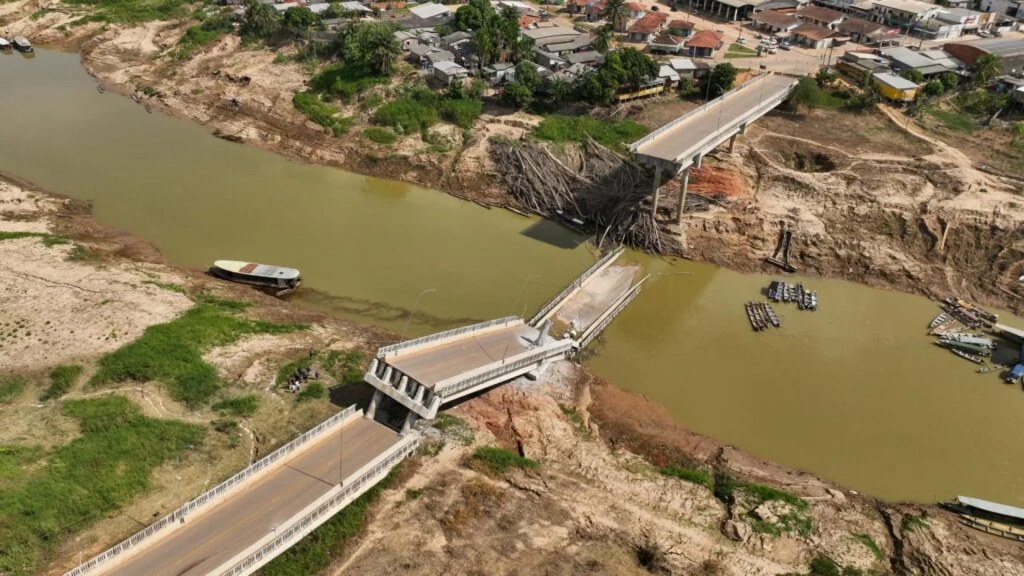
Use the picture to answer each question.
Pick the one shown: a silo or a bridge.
bridge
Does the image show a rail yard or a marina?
marina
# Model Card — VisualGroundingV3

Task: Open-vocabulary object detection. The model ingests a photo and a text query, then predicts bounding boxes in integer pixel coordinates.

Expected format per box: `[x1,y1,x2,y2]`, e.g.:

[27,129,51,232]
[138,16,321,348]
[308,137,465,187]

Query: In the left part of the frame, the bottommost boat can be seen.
[208,263,307,289]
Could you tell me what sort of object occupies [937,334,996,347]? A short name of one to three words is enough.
boat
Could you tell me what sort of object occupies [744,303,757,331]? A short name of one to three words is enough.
boat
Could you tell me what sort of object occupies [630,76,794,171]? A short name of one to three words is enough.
bridge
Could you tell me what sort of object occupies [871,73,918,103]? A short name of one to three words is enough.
house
